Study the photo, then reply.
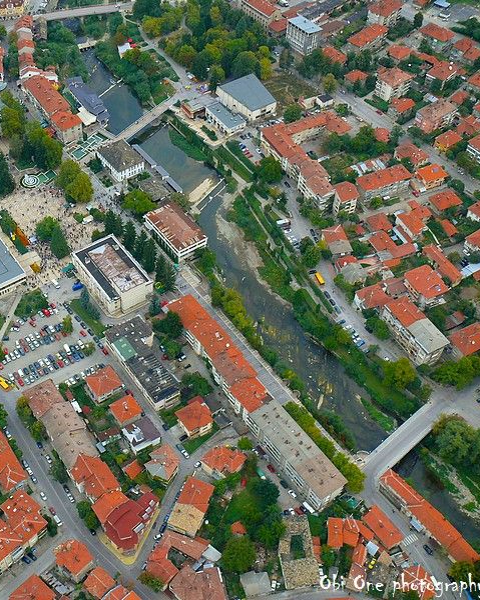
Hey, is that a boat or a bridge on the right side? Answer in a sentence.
The one visible on the right side is a bridge.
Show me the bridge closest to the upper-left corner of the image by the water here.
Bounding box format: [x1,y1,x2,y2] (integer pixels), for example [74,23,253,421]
[27,1,137,24]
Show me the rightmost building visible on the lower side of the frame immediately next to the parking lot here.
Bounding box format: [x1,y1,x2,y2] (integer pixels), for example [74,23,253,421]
[168,294,348,512]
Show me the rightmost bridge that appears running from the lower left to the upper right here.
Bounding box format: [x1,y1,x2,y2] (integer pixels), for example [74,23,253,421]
[361,398,449,479]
